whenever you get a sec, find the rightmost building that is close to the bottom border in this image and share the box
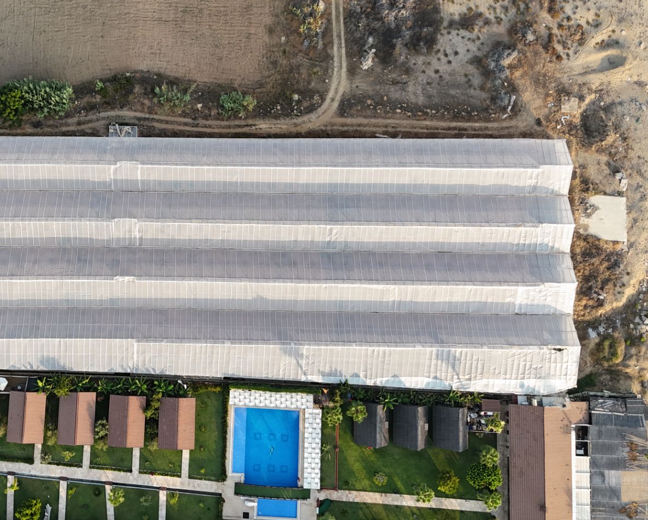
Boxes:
[505,402,590,520]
